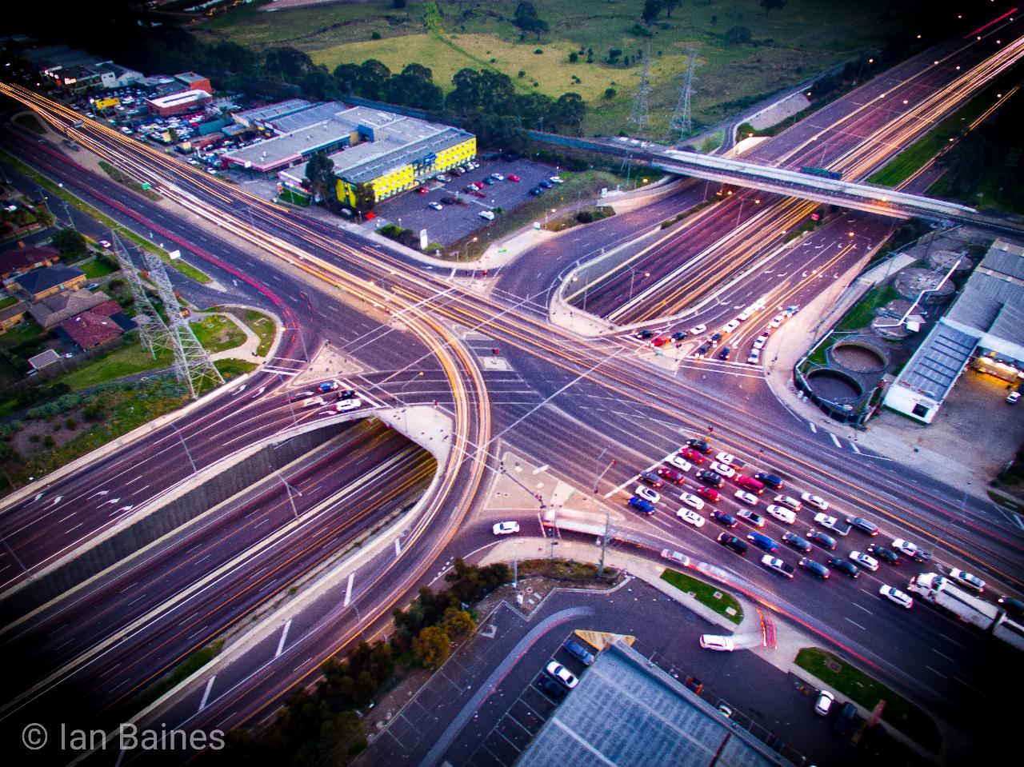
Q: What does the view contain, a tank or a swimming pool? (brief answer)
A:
tank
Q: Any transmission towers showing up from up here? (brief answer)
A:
Yes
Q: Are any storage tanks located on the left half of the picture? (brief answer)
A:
No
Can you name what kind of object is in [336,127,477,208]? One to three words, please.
building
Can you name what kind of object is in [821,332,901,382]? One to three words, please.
storage tank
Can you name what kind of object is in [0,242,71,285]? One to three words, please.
house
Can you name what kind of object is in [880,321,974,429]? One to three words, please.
building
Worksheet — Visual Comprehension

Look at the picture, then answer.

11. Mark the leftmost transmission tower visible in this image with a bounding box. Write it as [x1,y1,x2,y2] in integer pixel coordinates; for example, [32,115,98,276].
[96,228,182,364]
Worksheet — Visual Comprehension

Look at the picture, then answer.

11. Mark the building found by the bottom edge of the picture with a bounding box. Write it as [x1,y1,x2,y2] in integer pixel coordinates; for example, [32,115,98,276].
[528,637,800,767]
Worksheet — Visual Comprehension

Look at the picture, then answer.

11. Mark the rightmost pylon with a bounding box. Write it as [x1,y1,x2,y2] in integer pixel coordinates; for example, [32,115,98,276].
[663,45,704,138]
